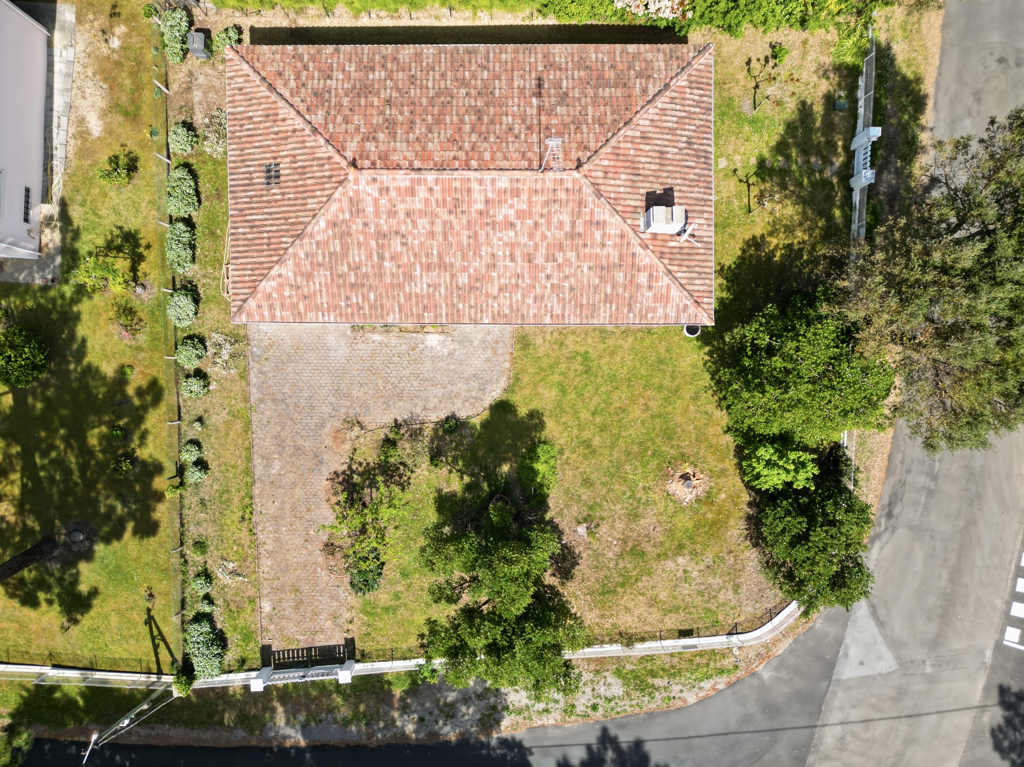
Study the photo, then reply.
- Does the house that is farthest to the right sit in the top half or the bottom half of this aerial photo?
top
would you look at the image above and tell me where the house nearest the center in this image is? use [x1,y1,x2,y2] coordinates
[221,40,718,328]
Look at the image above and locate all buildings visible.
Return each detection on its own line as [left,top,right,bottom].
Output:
[0,0,52,255]
[221,40,718,328]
